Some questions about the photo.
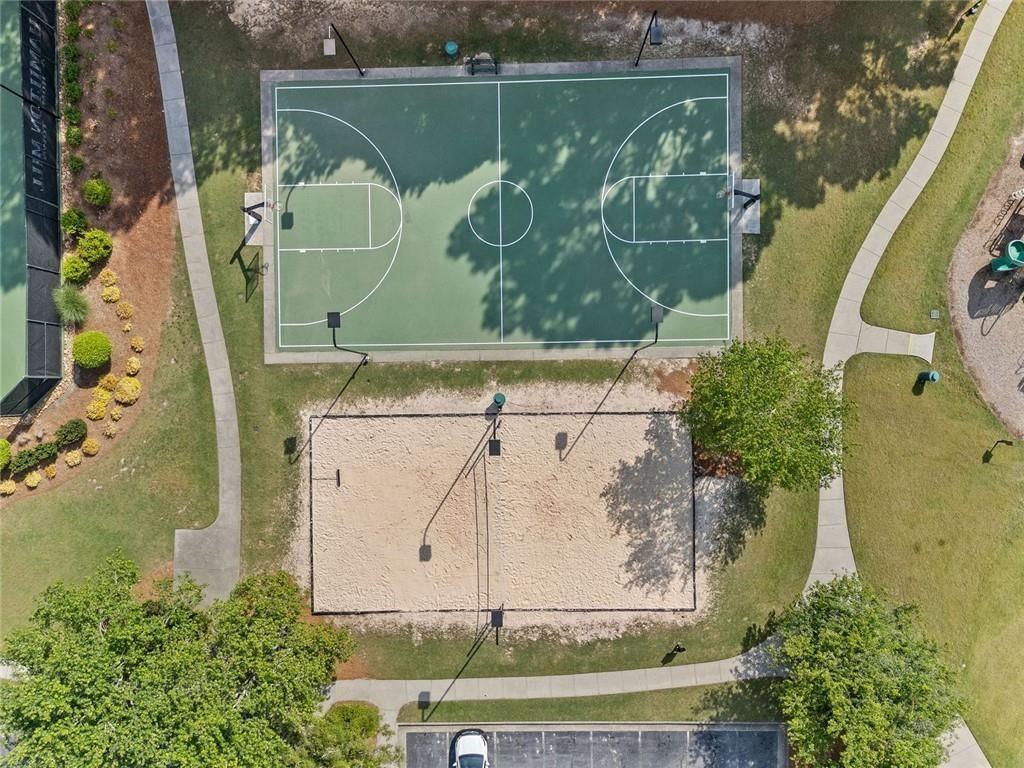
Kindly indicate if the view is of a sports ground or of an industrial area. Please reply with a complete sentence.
It's a sports ground.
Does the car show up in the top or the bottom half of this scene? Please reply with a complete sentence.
The car is in the bottom half of the image.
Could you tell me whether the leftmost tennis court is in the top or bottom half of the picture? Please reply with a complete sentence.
You can find the leftmost tennis court in the top half.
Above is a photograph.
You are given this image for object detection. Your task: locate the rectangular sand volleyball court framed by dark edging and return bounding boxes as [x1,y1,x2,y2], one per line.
[309,411,696,614]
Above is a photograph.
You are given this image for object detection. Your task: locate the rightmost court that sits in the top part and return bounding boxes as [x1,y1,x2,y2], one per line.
[260,56,743,363]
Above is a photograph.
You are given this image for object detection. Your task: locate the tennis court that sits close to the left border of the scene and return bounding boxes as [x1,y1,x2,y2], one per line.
[0,0,25,399]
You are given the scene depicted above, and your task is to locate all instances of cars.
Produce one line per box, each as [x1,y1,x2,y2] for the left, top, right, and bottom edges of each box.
[451,730,488,768]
